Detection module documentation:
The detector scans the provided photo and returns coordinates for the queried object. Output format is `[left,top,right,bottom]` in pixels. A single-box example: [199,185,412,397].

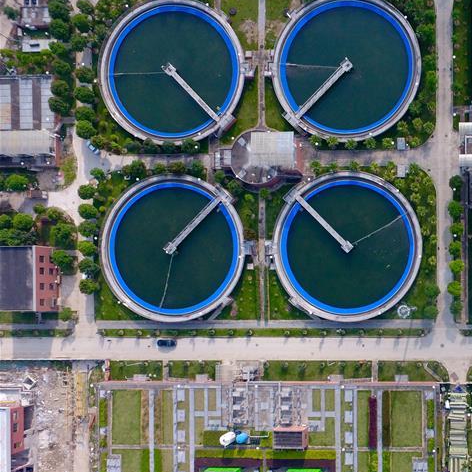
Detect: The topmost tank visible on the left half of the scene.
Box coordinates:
[98,0,256,145]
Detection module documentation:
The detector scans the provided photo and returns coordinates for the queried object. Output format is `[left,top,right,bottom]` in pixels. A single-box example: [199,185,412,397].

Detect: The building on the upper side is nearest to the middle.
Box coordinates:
[214,131,303,192]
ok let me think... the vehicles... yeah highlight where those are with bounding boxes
[84,139,102,156]
[158,338,177,346]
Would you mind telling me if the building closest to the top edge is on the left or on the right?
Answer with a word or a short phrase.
left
